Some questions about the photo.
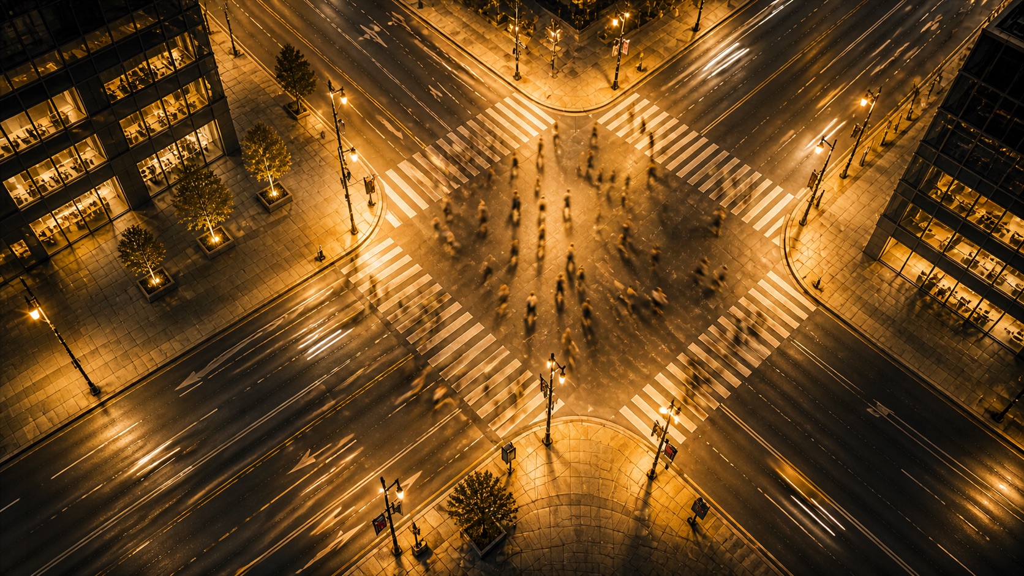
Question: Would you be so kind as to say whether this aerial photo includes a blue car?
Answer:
No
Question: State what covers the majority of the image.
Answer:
paved ground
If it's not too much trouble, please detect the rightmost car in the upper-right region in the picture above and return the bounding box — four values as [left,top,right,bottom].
[800,100,856,152]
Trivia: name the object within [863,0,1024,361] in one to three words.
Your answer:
building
